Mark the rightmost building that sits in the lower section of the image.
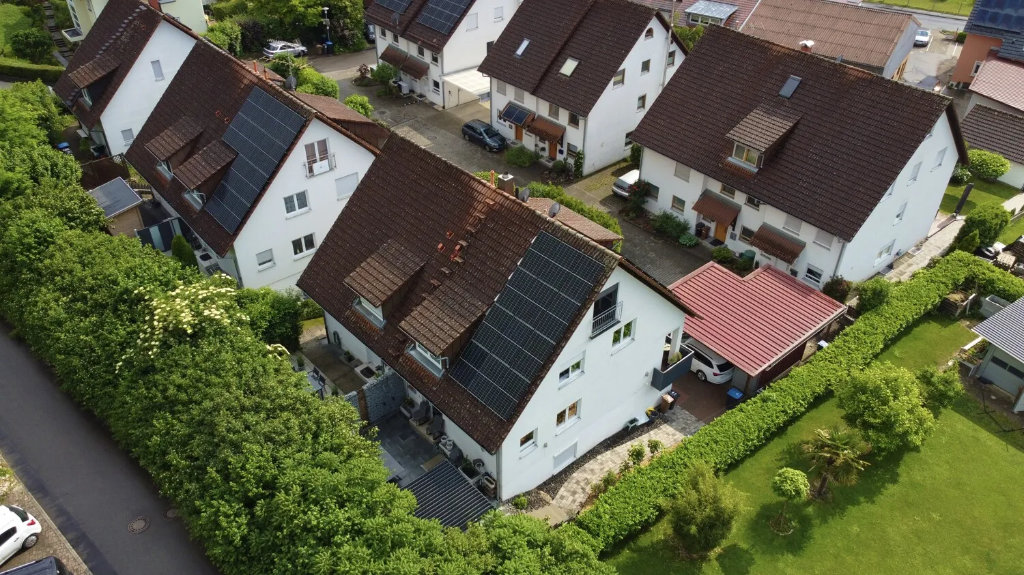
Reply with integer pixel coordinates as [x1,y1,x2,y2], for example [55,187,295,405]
[973,297,1024,393]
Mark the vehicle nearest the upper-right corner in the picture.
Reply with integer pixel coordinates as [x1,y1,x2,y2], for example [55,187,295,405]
[913,25,936,48]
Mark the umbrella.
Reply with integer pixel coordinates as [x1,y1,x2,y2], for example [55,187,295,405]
[953,176,996,218]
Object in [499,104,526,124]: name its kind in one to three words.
solar panel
